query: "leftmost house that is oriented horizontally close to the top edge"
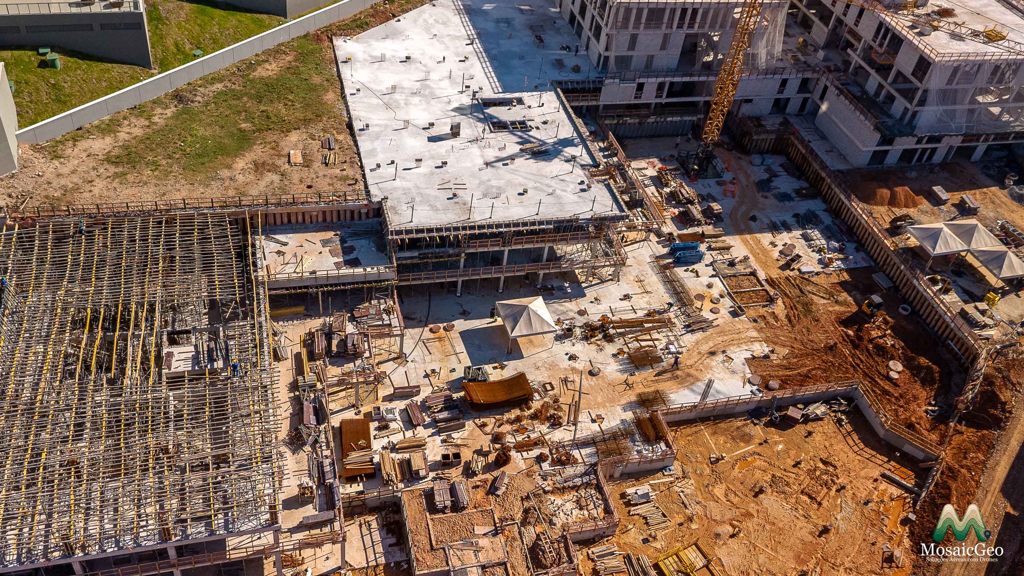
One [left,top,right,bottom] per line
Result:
[0,0,158,69]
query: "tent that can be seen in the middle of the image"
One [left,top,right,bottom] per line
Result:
[493,295,560,358]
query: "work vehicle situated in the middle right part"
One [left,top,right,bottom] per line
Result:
[856,290,902,326]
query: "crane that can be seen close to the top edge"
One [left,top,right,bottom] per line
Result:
[675,0,772,188]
